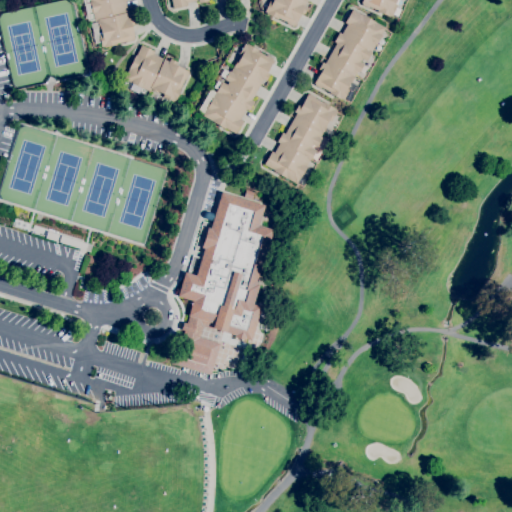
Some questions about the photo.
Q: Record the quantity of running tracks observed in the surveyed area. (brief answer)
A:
0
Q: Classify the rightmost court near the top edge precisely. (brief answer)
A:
tennis court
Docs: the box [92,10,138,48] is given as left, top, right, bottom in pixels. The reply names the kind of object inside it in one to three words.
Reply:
house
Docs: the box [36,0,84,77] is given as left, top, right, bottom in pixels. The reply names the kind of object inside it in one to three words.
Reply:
tennis court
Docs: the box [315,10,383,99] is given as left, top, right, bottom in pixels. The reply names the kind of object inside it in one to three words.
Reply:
house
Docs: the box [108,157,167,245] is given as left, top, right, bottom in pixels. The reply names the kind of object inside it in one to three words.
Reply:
tennis court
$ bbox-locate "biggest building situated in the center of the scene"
[180,192,274,360]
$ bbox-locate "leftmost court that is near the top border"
[0,8,49,87]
